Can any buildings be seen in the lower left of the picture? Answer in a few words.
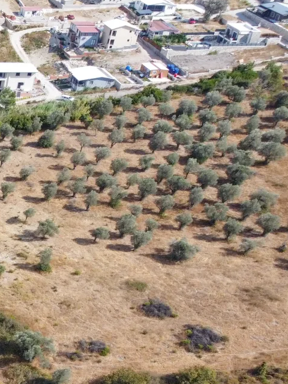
No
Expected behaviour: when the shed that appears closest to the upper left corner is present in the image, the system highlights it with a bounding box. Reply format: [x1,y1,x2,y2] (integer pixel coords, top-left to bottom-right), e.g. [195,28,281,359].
[15,3,54,17]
